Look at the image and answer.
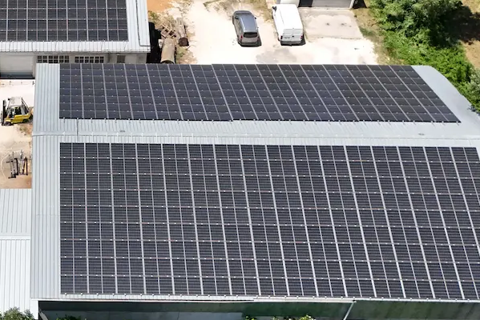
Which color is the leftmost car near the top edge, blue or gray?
gray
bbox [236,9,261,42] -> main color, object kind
gray car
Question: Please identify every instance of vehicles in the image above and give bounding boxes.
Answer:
[0,94,33,122]
[236,9,261,42]
[274,3,304,42]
